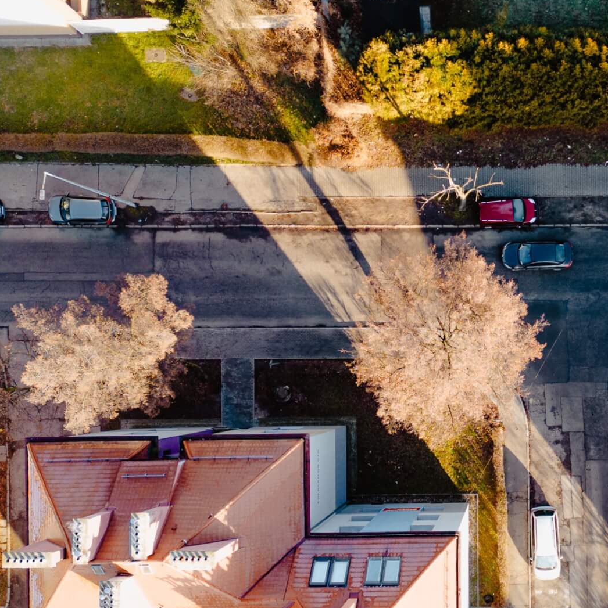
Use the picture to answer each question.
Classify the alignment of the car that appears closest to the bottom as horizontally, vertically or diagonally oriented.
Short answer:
vertically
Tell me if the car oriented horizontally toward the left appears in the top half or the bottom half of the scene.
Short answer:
top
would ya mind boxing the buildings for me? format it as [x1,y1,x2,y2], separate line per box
[3,427,470,608]
[0,0,90,35]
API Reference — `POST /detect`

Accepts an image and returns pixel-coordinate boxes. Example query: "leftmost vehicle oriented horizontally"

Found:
[50,193,121,226]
